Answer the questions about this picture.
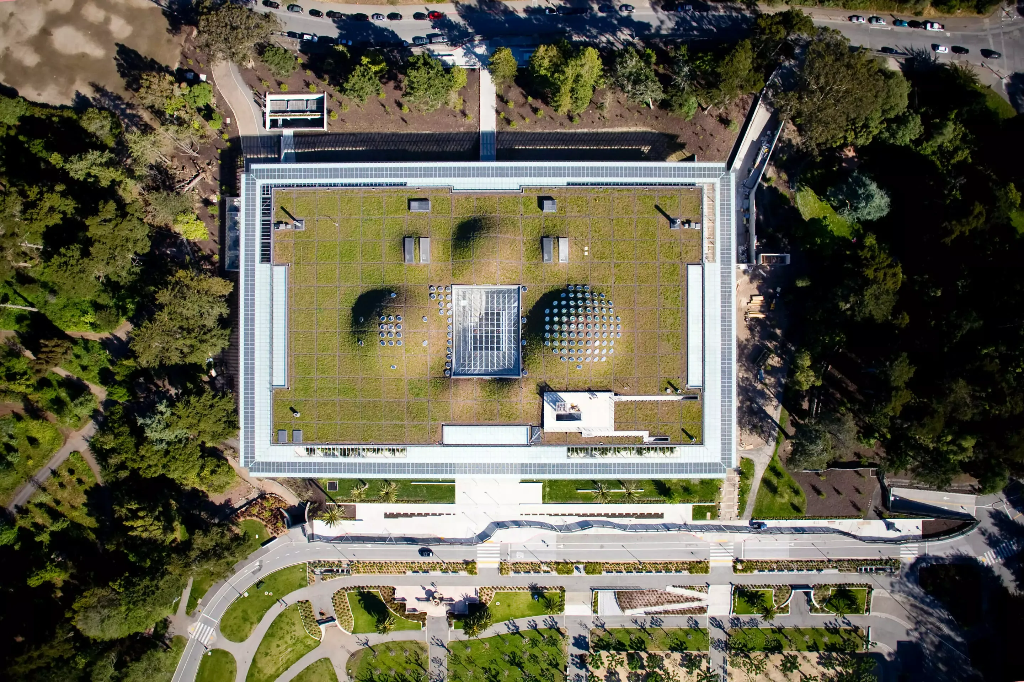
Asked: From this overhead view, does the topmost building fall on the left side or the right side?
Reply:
left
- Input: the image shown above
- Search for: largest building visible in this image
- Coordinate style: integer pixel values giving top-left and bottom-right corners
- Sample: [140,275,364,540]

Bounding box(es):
[241,163,735,478]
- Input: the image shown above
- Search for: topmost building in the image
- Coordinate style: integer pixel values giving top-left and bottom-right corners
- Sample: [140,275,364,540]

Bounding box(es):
[262,91,329,133]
